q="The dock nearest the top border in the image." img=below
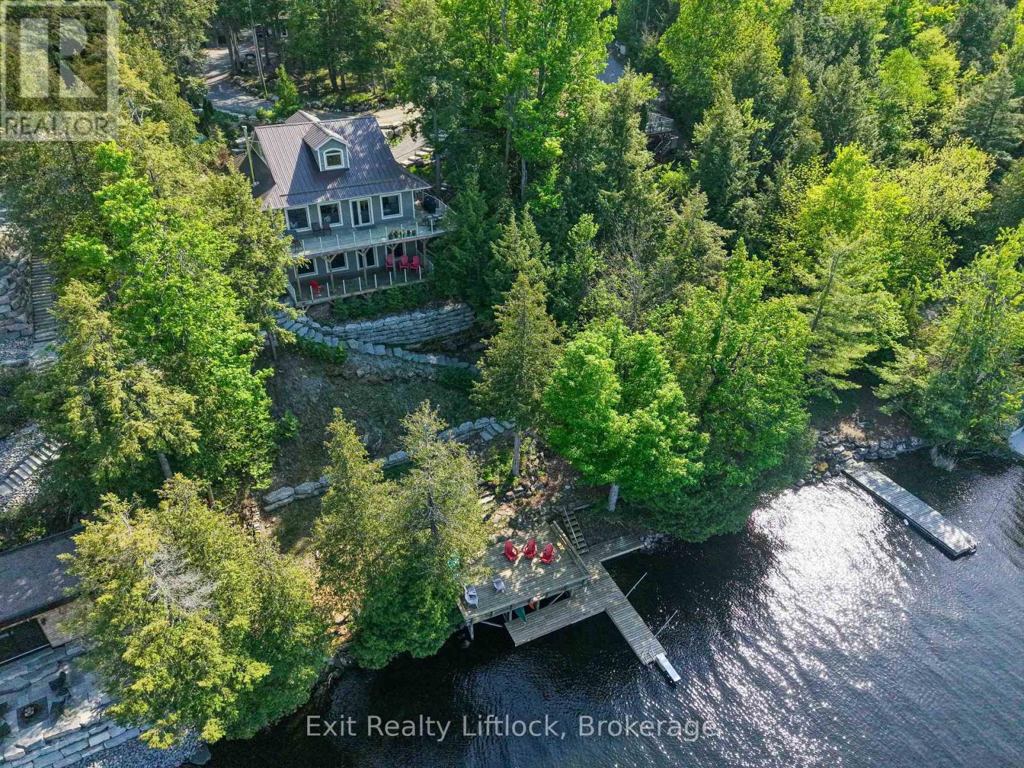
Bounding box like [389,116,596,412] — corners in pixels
[844,465,980,562]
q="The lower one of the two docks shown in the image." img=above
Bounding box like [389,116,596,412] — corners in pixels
[503,533,671,669]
